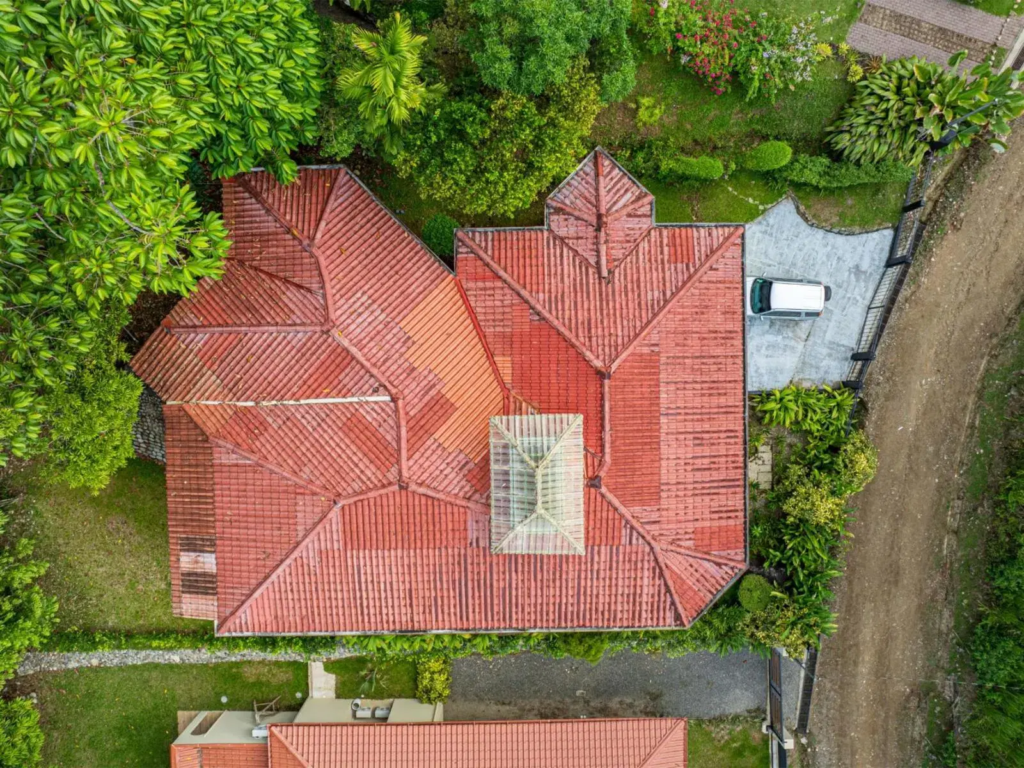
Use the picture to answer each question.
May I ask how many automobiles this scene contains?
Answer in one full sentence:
Just 1 automobile appears in this view.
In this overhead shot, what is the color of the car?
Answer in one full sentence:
In this view, the car is white.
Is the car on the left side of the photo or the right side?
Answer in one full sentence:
The car is on the right side of the image.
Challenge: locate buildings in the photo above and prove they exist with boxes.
[167,699,690,768]
[131,146,749,636]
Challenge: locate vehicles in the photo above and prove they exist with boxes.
[747,276,831,326]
